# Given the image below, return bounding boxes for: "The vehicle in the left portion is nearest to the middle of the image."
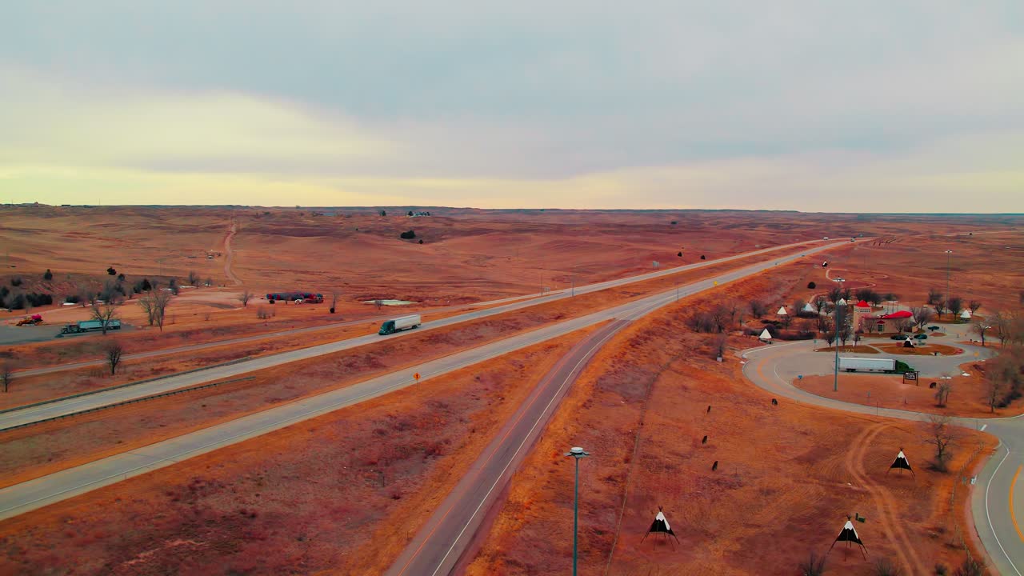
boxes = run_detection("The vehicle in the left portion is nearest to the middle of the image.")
[379,315,420,334]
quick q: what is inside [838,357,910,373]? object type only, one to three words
vehicle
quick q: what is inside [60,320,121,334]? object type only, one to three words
vehicle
